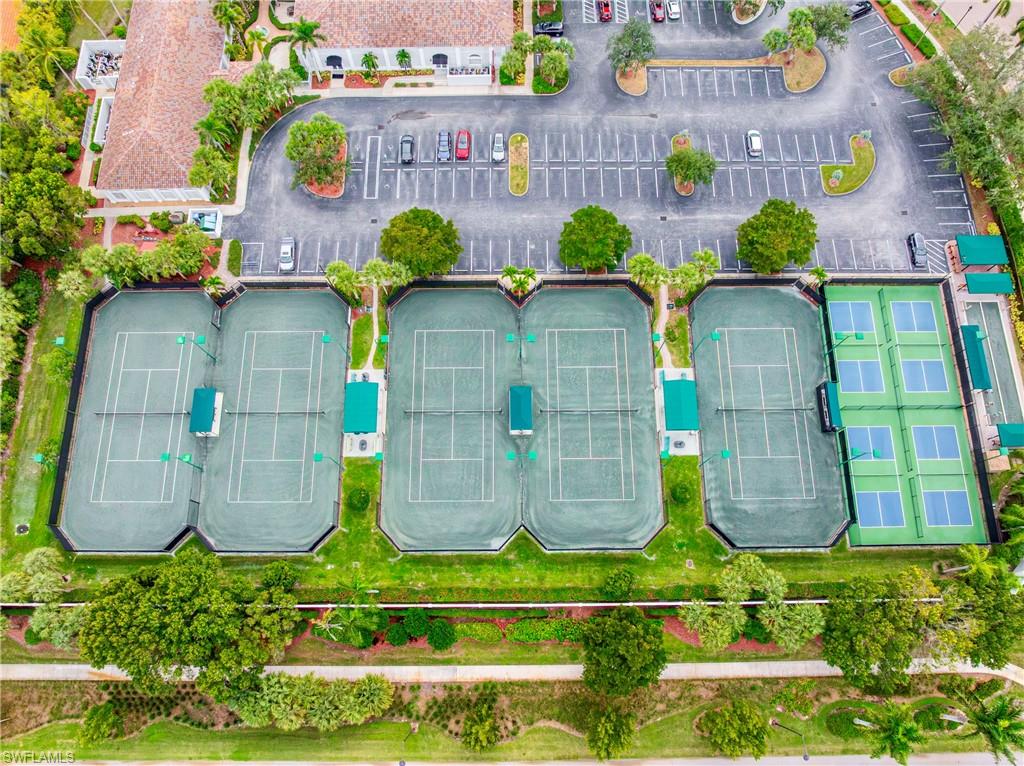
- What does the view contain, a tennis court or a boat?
tennis court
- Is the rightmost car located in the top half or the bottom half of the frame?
top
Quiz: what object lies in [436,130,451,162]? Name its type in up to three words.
car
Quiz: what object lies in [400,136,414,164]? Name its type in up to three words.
car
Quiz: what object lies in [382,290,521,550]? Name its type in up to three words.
tennis court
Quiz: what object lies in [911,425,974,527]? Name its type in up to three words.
sports court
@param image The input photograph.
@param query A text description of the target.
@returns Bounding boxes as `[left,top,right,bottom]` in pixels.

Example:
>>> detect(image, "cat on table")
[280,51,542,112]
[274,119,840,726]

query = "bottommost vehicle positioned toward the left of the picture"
[279,238,296,270]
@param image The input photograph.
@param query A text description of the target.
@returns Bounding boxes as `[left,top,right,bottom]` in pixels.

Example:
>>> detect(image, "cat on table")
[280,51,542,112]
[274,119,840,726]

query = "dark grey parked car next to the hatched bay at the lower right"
[906,234,929,268]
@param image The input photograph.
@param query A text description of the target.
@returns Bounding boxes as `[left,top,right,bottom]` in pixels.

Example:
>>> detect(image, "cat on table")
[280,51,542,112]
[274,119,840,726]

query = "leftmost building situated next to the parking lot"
[96,0,224,203]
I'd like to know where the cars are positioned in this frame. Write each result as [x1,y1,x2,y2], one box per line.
[665,0,680,22]
[456,132,470,159]
[491,133,505,162]
[400,136,414,164]
[279,238,296,270]
[436,130,451,162]
[533,20,564,37]
[598,0,612,21]
[650,0,665,21]
[844,0,874,19]
[906,234,929,268]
